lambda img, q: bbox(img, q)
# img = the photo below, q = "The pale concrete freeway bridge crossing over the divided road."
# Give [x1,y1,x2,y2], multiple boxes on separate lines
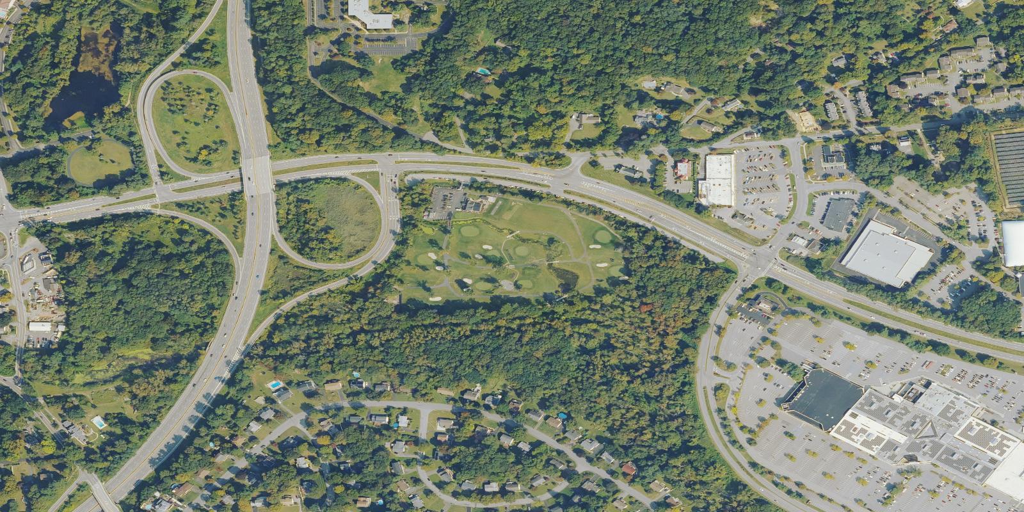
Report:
[240,149,272,204]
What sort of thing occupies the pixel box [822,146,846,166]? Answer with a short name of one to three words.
building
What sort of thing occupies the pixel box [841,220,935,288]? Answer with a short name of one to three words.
building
